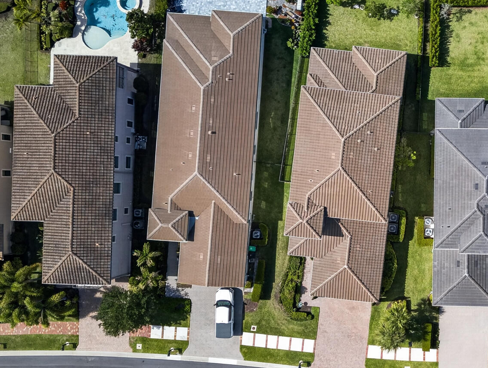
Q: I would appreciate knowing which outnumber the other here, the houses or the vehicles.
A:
houses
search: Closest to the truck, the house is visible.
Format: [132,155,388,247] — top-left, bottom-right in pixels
[147,9,264,287]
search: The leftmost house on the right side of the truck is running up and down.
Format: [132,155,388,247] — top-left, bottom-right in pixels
[283,45,408,303]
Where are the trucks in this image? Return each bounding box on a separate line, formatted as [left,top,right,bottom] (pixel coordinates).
[213,287,236,339]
